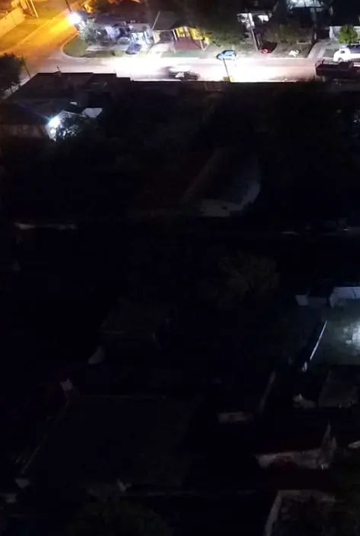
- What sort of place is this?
residential area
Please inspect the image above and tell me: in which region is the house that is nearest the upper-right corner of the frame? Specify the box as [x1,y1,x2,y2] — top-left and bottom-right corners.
[292,12,324,44]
